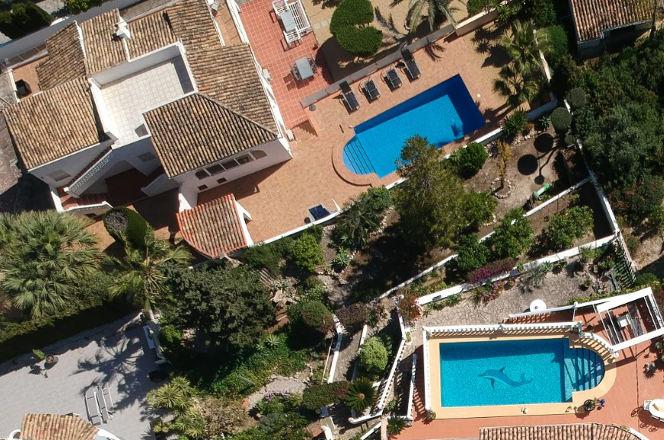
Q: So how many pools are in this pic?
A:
2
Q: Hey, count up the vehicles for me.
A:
0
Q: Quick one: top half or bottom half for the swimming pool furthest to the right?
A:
bottom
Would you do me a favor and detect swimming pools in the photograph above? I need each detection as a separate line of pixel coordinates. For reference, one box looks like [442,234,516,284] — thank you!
[329,65,495,192]
[430,325,617,418]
